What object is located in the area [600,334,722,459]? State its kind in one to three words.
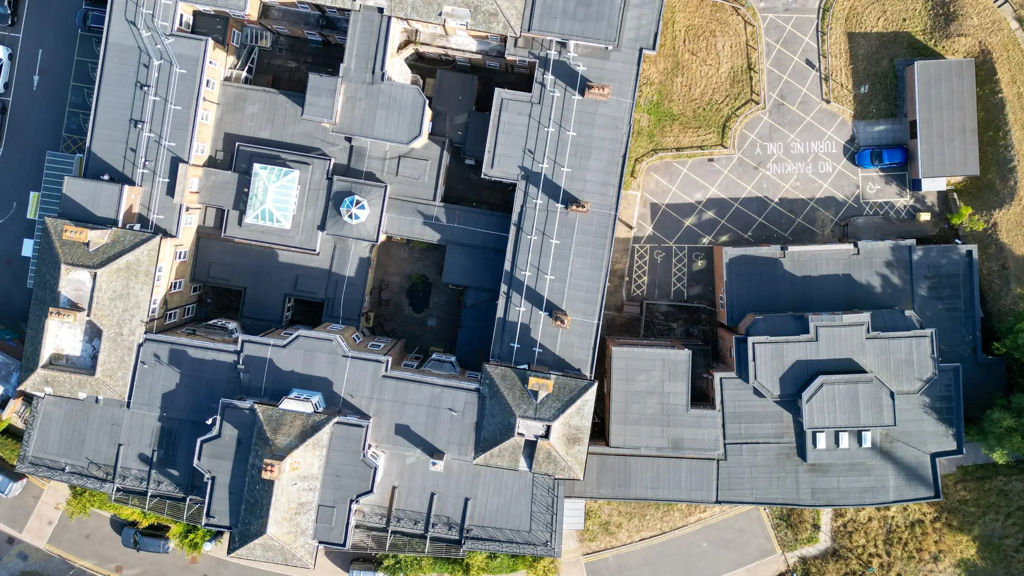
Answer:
building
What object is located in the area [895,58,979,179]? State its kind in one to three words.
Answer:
building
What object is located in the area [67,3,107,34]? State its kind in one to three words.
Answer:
car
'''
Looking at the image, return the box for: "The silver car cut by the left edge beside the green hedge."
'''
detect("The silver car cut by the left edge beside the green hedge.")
[0,469,32,500]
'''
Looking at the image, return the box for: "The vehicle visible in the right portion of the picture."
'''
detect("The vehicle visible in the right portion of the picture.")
[852,143,907,171]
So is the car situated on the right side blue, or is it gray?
blue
